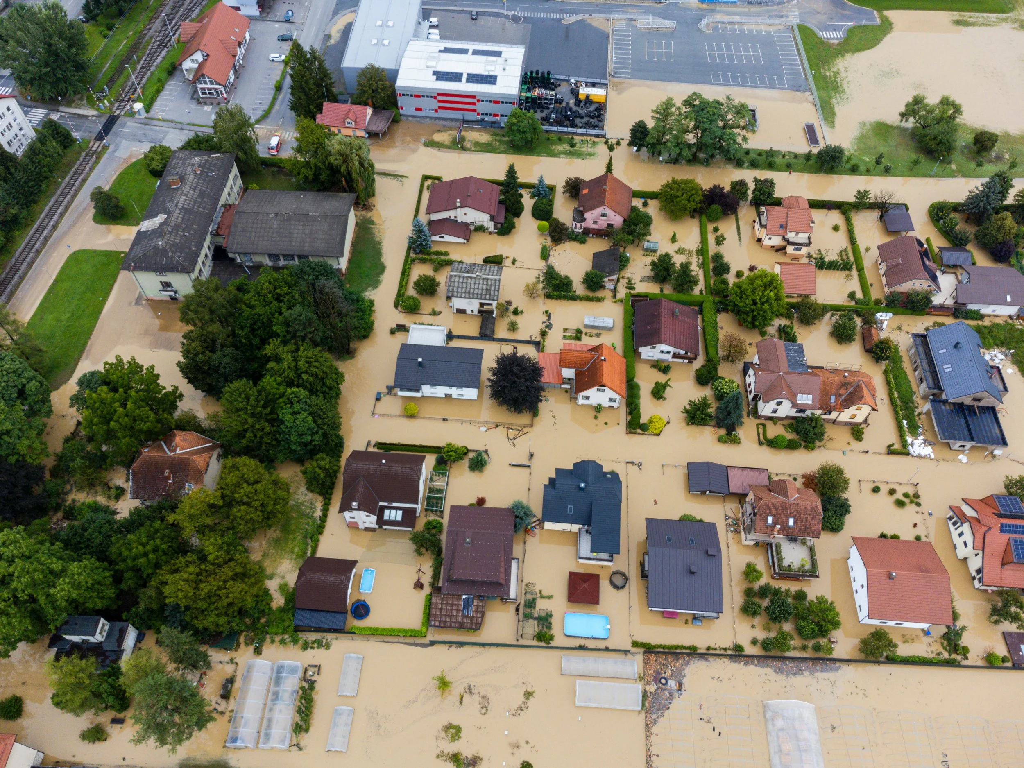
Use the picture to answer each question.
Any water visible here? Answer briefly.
Yes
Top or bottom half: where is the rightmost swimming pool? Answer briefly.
bottom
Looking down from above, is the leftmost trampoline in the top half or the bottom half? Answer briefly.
bottom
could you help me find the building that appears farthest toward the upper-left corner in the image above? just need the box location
[0,95,36,157]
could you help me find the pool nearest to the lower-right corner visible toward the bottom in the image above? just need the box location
[564,613,611,639]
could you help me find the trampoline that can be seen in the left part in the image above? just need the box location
[349,596,372,622]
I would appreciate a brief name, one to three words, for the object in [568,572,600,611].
gazebo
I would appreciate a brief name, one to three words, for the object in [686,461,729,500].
building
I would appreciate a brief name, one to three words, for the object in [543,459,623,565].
house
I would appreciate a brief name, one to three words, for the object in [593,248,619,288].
shed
